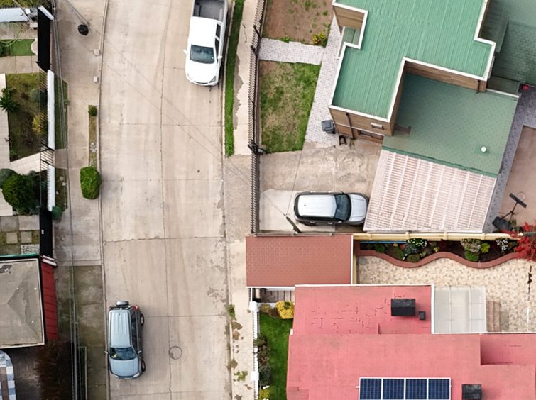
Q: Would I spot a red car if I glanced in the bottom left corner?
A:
No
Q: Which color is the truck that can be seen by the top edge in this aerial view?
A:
white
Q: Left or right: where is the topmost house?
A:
right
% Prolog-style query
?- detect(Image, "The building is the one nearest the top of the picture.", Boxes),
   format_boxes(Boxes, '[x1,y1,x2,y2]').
[330,0,536,178]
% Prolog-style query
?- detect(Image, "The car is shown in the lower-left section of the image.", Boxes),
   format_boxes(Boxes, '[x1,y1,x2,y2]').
[102,298,144,378]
